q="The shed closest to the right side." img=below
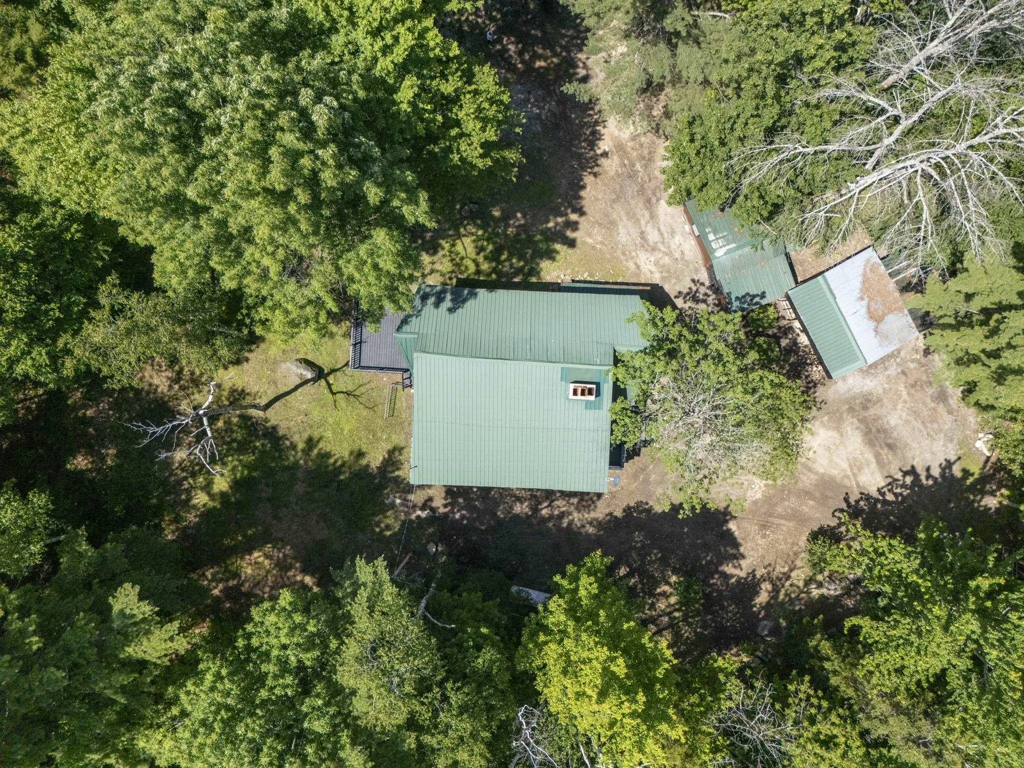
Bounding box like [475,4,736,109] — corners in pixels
[784,237,937,379]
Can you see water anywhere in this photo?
No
